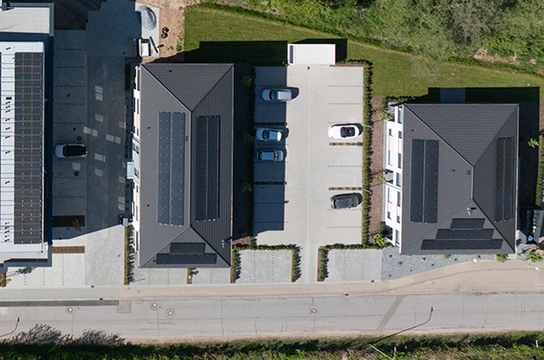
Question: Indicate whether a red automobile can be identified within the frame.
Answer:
No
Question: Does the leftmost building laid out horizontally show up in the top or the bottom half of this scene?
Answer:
top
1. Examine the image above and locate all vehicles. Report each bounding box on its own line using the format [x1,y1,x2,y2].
[254,127,283,142]
[327,191,362,209]
[326,123,360,140]
[254,148,285,164]
[259,87,292,103]
[55,143,88,159]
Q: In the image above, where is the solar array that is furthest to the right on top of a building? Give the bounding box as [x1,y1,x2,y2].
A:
[491,137,514,222]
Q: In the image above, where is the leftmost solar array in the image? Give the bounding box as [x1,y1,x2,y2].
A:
[14,53,42,242]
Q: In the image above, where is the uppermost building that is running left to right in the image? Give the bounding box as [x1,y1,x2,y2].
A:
[283,43,335,66]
